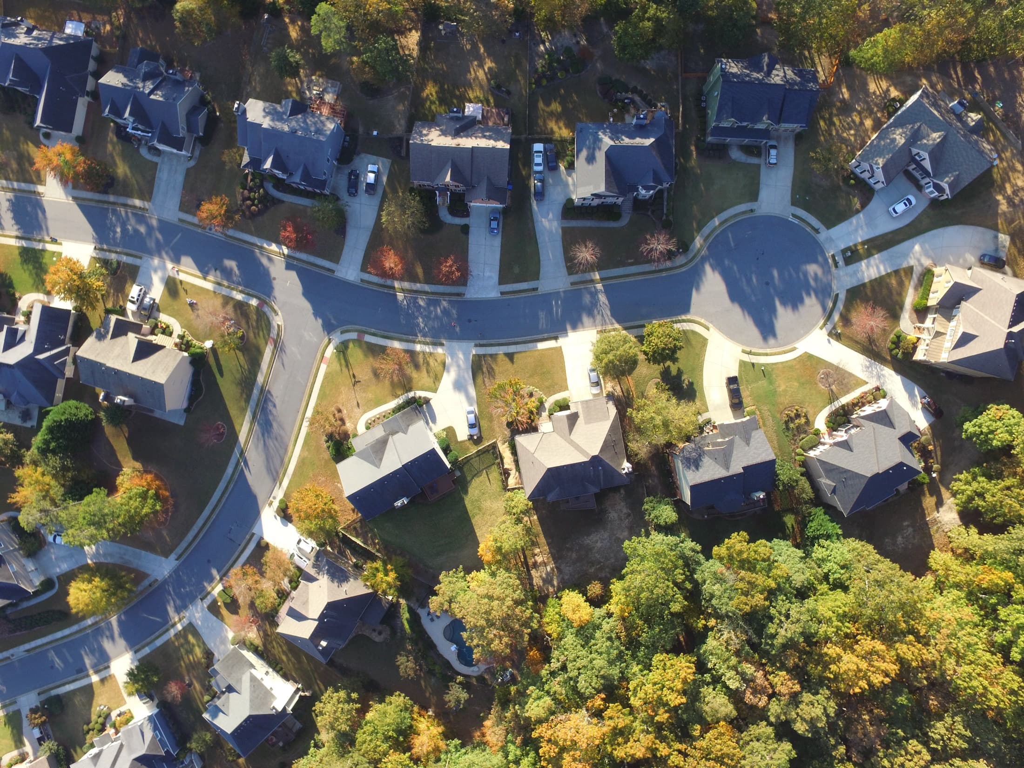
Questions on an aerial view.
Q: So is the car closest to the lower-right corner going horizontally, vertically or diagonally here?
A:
diagonally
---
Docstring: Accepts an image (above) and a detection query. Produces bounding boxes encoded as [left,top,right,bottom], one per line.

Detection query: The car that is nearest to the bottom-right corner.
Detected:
[918,395,945,421]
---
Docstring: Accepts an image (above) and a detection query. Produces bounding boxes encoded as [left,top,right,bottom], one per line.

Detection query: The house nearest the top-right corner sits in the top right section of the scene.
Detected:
[837,85,996,206]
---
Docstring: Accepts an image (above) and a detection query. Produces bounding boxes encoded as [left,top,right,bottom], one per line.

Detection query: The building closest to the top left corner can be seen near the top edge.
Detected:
[0,14,112,143]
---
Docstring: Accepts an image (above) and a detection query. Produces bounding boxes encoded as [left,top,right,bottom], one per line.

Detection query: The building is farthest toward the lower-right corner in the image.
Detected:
[803,395,925,517]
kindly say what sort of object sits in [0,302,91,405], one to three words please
house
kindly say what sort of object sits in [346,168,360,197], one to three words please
car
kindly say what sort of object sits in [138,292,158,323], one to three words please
vehicle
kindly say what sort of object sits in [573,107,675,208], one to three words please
house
